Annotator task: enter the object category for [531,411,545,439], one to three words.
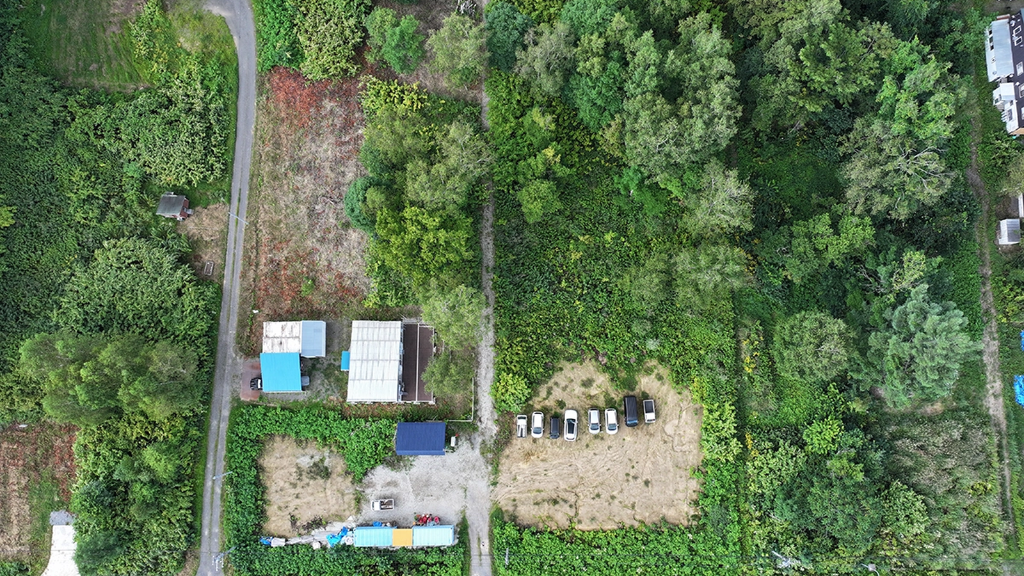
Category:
car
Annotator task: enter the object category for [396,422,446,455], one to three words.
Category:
shed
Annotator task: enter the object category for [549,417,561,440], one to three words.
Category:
vehicle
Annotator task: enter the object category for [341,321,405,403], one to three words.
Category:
barn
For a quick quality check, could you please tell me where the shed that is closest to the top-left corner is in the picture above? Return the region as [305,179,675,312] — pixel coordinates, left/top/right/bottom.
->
[156,190,198,218]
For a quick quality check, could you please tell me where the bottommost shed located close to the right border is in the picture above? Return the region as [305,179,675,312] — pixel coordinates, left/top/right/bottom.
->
[991,219,1020,246]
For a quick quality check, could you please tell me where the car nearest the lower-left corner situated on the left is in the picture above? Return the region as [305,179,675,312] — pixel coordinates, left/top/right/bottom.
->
[248,376,263,390]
